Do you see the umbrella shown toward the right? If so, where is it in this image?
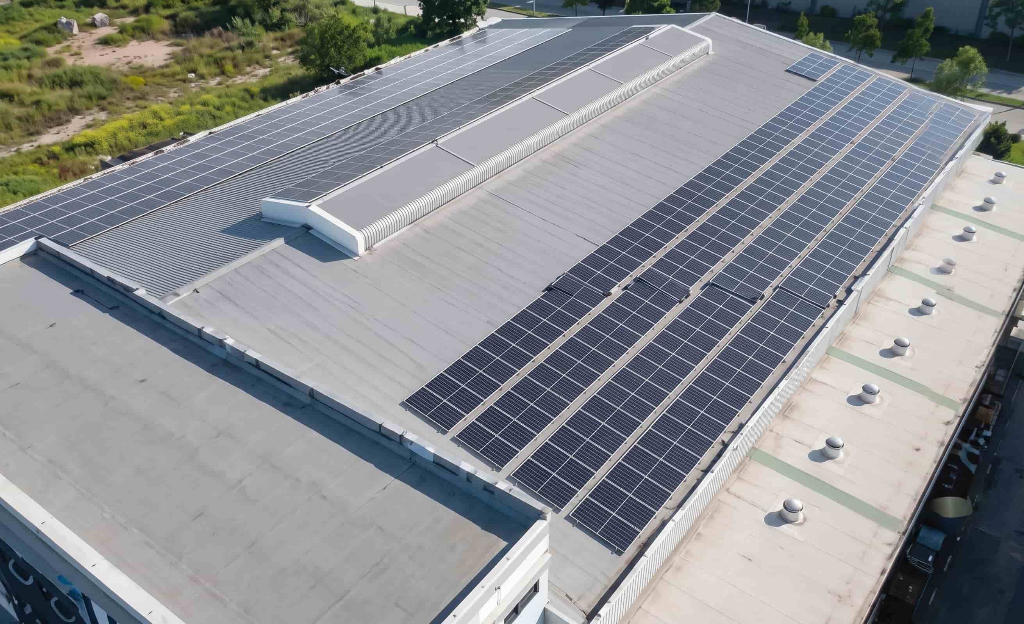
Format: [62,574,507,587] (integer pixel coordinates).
[930,495,970,527]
